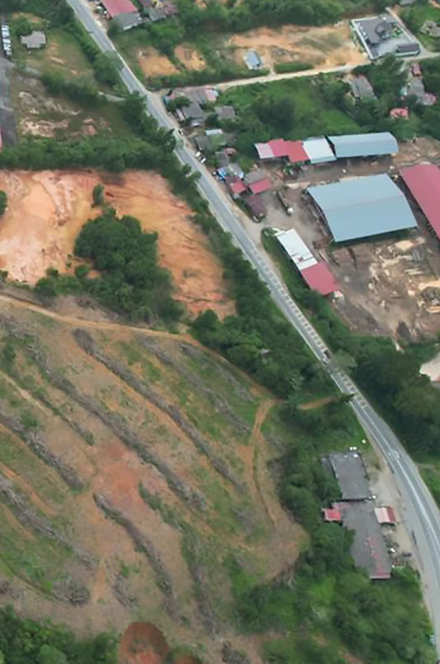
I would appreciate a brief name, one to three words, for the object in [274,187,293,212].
vehicle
